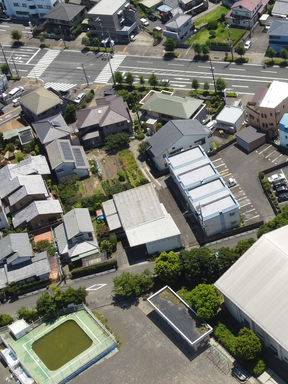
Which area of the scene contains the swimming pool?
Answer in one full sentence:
The swimming pool appears toward the bottom left of the photo.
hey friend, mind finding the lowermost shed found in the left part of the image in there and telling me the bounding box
[10,322,34,344]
